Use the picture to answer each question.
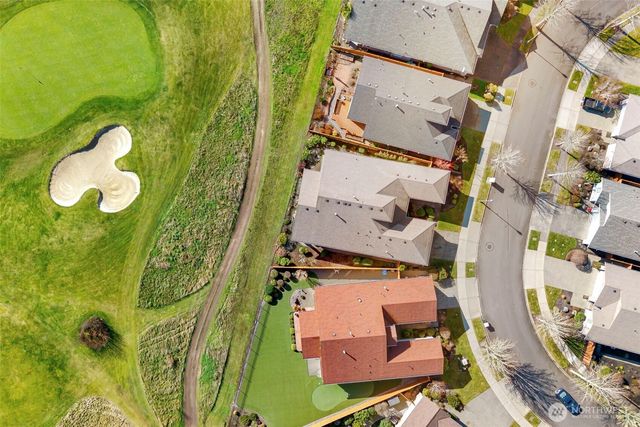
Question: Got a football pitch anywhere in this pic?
No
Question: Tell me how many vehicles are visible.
2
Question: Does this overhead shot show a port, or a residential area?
residential area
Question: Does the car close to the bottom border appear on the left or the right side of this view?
right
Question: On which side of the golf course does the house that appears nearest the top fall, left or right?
right of it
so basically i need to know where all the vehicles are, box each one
[554,388,584,419]
[581,94,622,119]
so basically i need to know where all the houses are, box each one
[348,56,471,161]
[599,94,640,179]
[346,0,508,78]
[584,178,640,263]
[294,276,443,384]
[581,263,640,354]
[391,393,462,427]
[291,149,451,266]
